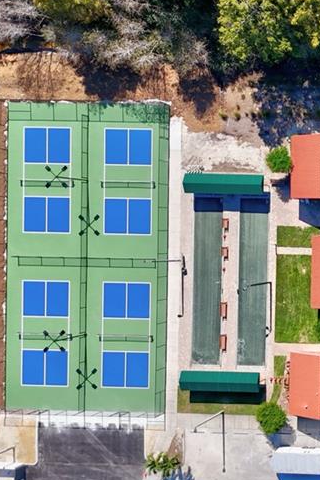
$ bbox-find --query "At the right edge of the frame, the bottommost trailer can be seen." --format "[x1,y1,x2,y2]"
[273,447,320,474]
